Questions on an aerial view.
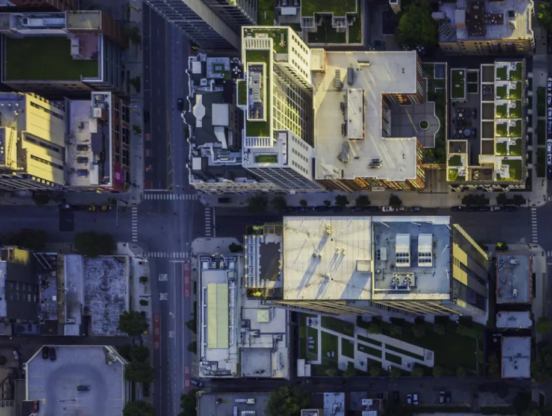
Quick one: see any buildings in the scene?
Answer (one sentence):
Yes, this view includes a building.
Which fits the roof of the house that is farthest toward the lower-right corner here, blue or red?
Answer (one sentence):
From above, the roof of the house that is farthest toward the lower-right corner appears blue.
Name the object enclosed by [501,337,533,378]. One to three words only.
house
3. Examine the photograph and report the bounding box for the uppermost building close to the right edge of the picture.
[432,0,536,58]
